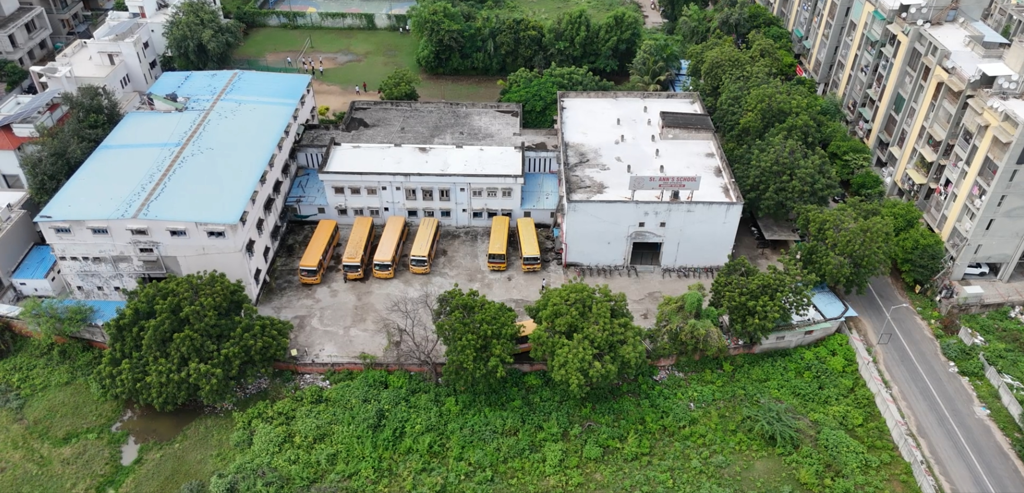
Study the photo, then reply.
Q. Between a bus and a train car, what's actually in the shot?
bus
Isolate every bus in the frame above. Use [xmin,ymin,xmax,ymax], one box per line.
[372,217,406,274]
[408,219,439,271]
[486,217,510,269]
[516,219,543,270]
[297,221,338,281]
[340,218,374,276]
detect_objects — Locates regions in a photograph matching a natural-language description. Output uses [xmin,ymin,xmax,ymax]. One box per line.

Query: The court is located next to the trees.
[270,0,473,23]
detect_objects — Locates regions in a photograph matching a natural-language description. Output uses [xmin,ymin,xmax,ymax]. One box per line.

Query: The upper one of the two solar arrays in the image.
[95,12,149,41]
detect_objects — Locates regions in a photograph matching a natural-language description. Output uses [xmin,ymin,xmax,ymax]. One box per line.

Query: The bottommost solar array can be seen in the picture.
[0,85,67,140]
